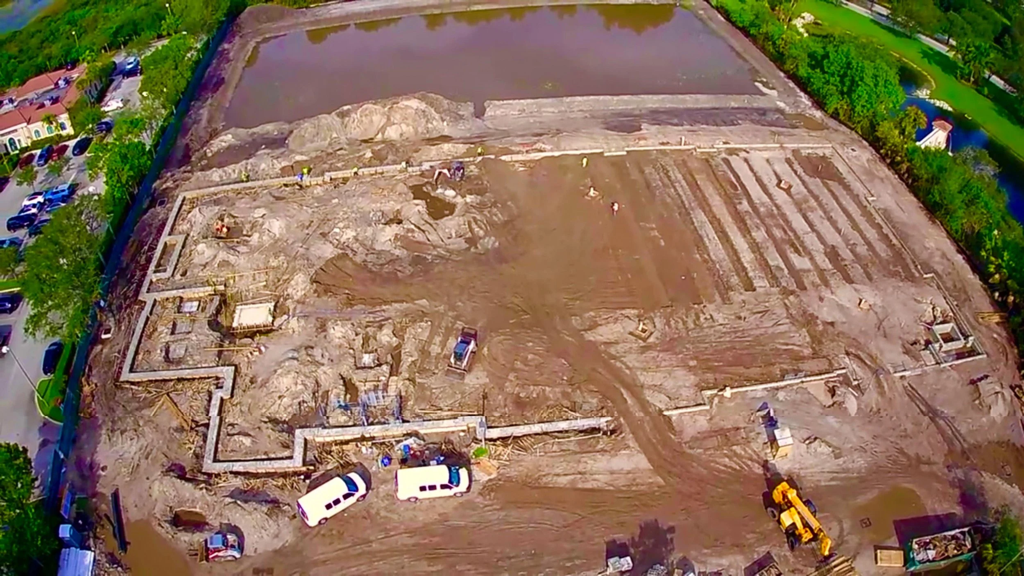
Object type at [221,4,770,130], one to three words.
pond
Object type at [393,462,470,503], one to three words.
van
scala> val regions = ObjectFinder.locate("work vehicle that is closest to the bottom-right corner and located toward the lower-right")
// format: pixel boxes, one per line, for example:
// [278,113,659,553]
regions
[763,485,838,574]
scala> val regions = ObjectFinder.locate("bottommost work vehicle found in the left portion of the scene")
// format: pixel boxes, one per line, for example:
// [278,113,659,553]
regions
[195,538,239,568]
